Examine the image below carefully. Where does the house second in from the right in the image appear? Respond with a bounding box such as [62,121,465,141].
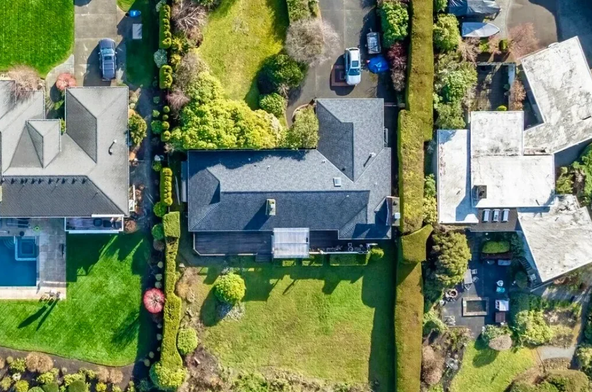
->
[179,97,399,267]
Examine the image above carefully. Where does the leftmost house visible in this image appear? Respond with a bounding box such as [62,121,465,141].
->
[0,79,130,235]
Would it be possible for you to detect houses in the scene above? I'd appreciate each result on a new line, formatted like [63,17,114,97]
[179,97,399,267]
[432,36,592,282]
[0,79,130,235]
